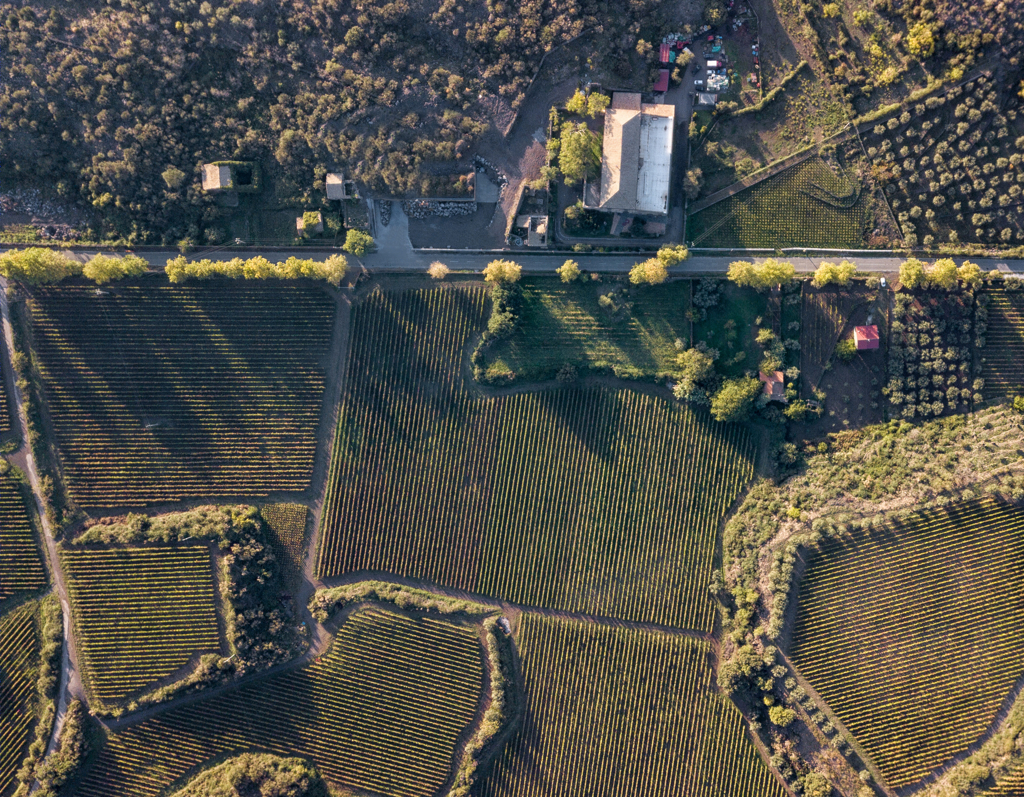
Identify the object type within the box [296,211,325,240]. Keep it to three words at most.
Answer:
shed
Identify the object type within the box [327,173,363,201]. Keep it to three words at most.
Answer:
shed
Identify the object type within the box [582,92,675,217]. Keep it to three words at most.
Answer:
house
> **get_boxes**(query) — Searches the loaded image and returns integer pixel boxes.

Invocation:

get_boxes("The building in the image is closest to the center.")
[517,215,548,248]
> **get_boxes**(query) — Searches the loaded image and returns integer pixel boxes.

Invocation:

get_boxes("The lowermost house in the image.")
[757,371,787,402]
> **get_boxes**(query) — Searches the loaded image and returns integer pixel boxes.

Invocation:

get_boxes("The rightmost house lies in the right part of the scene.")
[852,325,879,350]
